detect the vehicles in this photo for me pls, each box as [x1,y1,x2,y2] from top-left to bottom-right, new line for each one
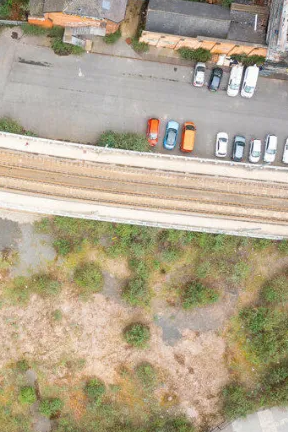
[224,62,246,100]
[179,122,197,153]
[146,118,160,148]
[191,62,208,88]
[230,134,248,164]
[213,131,230,160]
[207,66,224,93]
[162,120,179,151]
[262,133,280,164]
[238,63,262,101]
[280,136,288,166]
[248,137,263,165]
